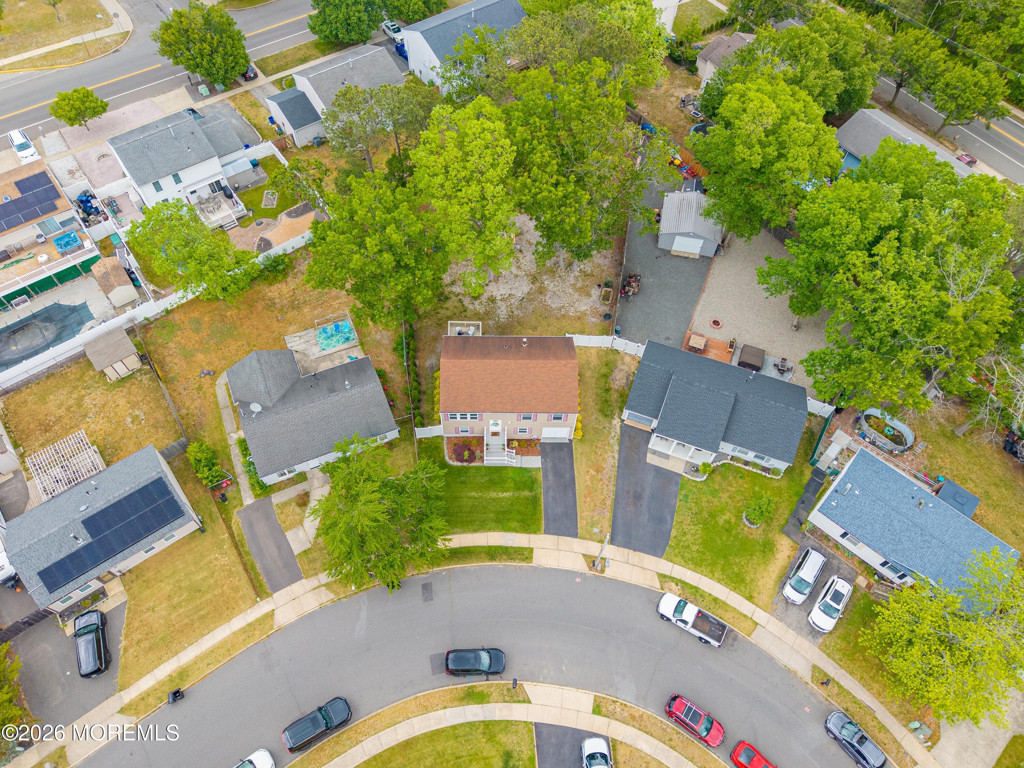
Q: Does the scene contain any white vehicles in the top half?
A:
Yes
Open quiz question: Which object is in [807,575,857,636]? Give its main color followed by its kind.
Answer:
white car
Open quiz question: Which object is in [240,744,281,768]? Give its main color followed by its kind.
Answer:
white car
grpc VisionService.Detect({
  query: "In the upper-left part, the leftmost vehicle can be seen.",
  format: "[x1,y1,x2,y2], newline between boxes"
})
[9,128,41,161]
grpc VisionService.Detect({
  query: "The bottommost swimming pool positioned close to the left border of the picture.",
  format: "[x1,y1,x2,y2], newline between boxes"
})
[0,299,95,371]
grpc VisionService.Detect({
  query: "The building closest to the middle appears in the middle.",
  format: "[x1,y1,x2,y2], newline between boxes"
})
[439,335,579,438]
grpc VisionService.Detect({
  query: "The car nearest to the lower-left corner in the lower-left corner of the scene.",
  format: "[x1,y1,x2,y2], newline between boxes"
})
[69,608,112,682]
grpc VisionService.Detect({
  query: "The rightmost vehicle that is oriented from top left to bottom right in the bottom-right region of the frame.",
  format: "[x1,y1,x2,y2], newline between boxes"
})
[819,708,892,768]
